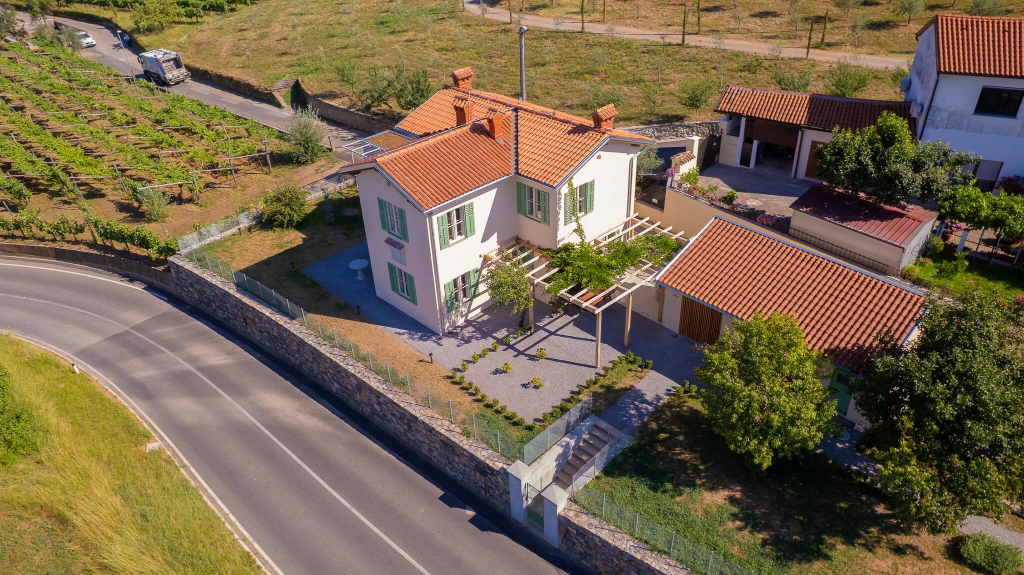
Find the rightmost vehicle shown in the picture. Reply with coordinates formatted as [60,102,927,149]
[135,46,186,83]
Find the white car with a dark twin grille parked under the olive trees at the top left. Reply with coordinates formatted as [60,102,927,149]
[76,30,97,49]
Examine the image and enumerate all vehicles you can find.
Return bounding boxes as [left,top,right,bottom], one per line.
[135,46,186,83]
[76,30,97,49]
